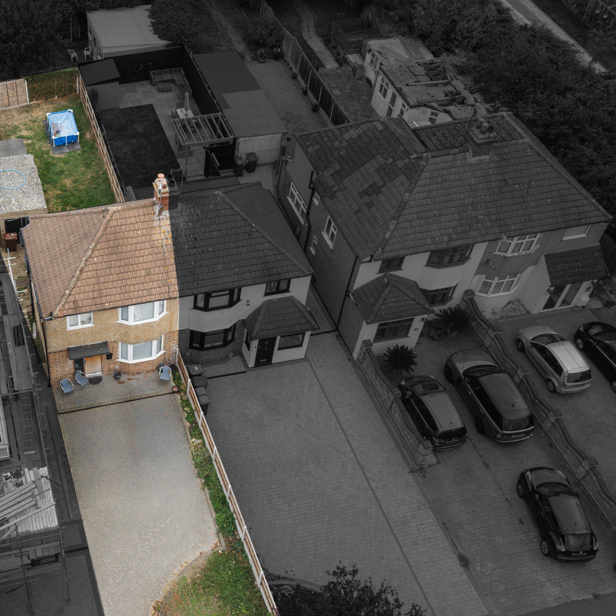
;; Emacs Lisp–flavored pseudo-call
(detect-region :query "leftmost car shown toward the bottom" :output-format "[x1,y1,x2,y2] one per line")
[400,363,472,446]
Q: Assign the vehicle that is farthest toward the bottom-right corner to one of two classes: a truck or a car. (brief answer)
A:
car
